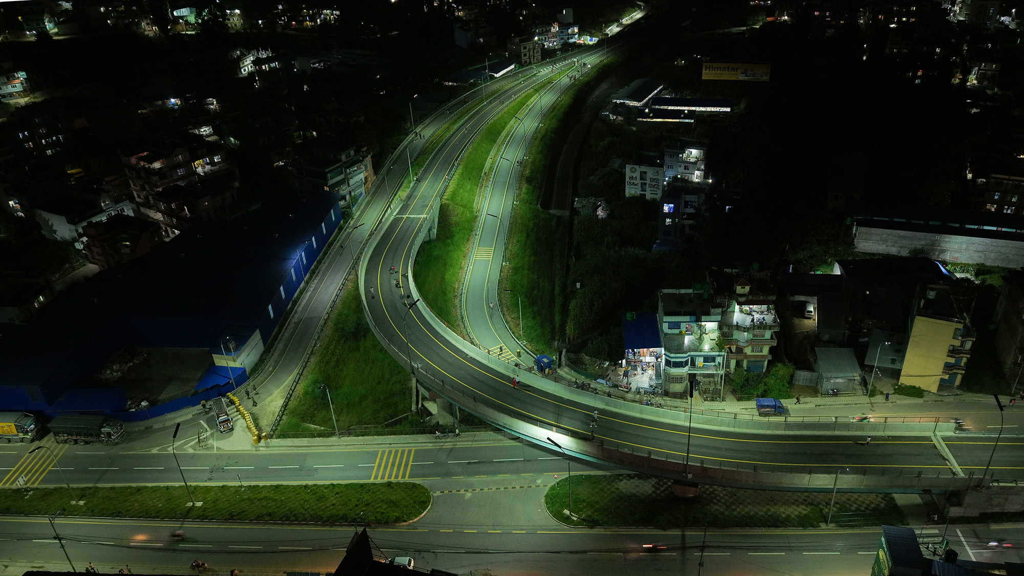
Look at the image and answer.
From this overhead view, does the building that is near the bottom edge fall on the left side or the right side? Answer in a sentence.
You can find the building that is near the bottom edge on the right side of the picture.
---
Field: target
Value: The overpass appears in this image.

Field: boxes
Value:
[360,202,1017,506]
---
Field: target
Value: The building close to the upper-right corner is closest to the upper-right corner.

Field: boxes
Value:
[973,0,1015,28]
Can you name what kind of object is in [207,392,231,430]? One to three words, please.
truck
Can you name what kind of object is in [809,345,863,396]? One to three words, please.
shed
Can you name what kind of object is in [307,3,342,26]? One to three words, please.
house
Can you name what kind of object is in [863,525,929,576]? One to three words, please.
building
